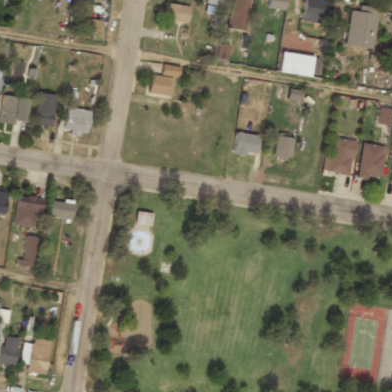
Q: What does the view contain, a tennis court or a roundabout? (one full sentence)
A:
I can see a tennis court in this picture.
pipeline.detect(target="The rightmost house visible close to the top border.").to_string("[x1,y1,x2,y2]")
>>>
[346,5,380,48]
